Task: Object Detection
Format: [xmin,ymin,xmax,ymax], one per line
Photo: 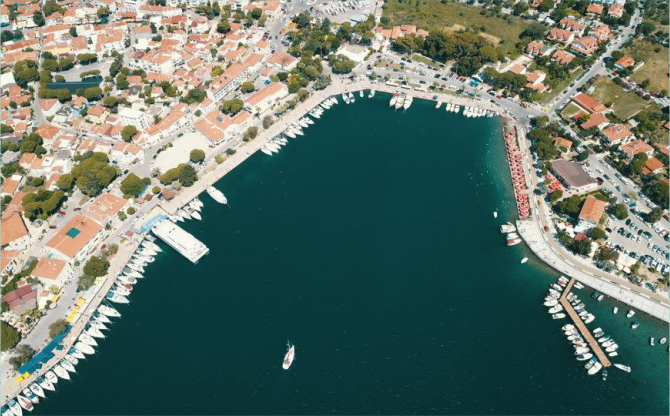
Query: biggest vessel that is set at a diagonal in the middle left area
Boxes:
[154,219,210,266]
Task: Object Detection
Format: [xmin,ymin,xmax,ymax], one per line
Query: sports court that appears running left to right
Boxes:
[49,76,106,91]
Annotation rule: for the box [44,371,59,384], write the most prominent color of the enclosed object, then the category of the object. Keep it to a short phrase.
white boat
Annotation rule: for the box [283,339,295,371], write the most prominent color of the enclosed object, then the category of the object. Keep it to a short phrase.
white boat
